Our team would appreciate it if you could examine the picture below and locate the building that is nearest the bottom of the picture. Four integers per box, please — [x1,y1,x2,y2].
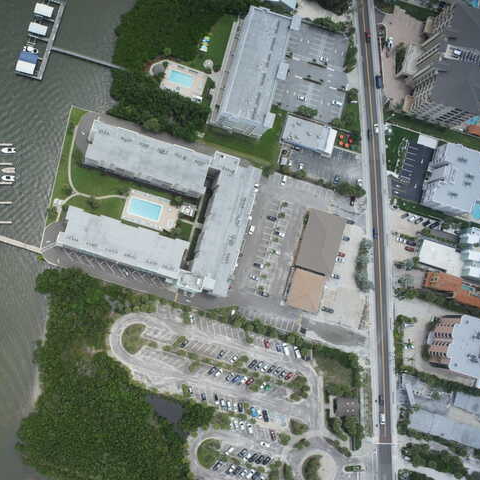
[406,411,480,448]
